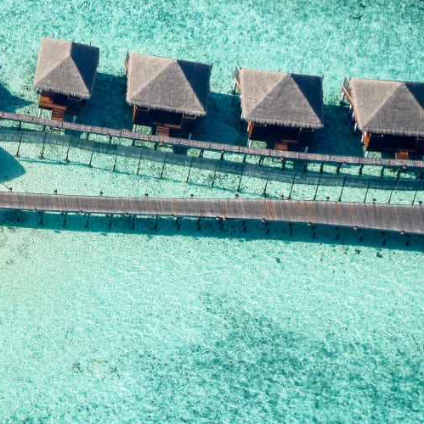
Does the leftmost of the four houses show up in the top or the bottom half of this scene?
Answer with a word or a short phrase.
top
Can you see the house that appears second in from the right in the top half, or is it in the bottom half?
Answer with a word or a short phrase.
top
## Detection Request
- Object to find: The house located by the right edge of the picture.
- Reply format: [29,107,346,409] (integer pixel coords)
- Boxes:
[339,78,424,160]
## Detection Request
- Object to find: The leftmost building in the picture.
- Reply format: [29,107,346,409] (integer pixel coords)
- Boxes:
[31,38,100,122]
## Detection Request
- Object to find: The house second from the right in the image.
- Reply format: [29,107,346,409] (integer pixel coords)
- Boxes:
[230,66,325,152]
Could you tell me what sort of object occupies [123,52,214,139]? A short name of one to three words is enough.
house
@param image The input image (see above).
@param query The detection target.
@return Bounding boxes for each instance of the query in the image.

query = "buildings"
[123,52,214,139]
[230,66,325,152]
[31,38,100,122]
[339,78,424,160]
